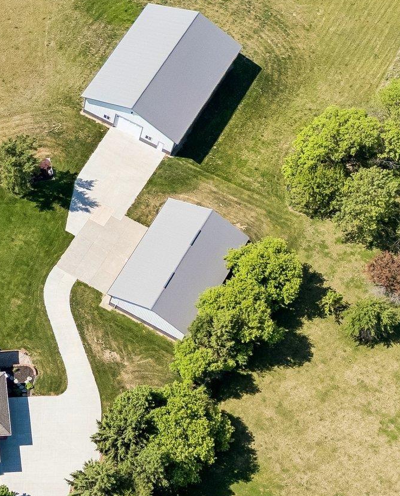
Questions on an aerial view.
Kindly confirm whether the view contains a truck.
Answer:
No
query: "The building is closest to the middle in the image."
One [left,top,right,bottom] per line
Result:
[107,197,249,344]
